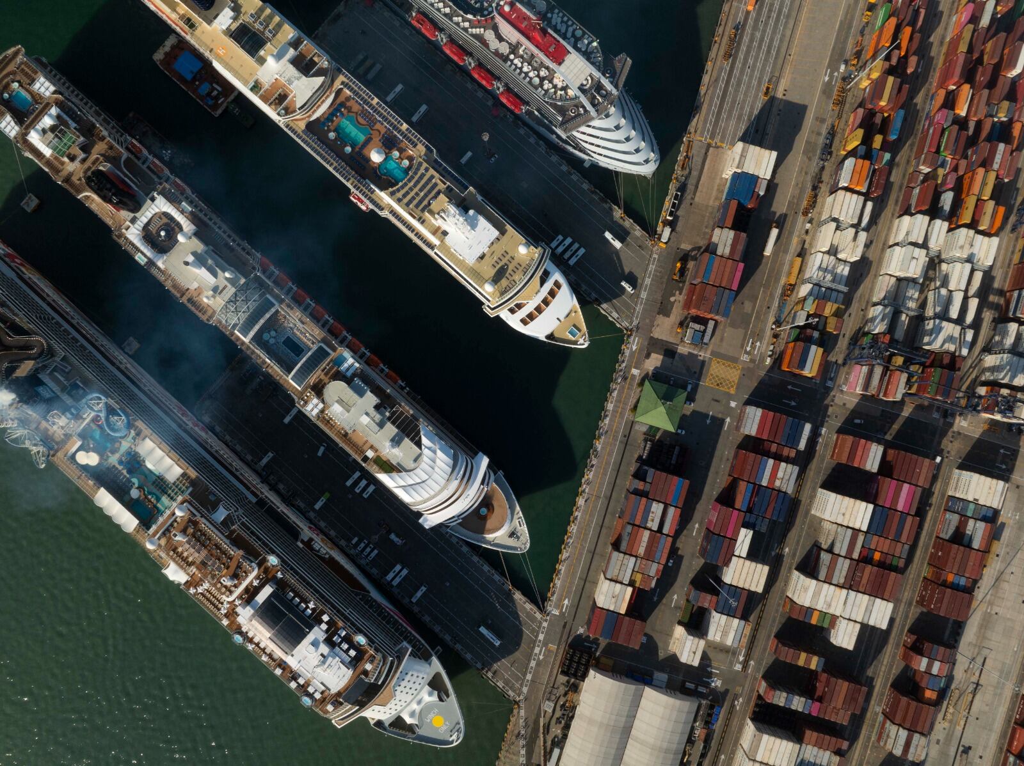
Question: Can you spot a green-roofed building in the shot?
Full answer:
Yes, looking at the shot, I can spot a green-roofed building.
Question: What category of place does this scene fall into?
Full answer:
What you see here is a port.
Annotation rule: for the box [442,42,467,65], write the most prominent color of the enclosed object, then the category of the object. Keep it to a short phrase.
red boat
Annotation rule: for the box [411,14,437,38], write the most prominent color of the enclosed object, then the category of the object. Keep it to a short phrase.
red boat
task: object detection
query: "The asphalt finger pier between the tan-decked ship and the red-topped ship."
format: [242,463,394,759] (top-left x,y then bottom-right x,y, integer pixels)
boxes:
[312,0,652,328]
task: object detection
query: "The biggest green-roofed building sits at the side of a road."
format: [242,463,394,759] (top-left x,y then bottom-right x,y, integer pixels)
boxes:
[632,379,688,432]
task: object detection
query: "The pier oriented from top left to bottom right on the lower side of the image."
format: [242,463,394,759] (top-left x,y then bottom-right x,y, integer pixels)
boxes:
[197,351,542,700]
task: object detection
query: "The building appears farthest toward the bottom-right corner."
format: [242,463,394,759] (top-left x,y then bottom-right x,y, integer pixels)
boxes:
[558,662,699,766]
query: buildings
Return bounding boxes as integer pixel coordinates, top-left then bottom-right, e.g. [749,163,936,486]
[558,662,699,766]
[632,379,688,432]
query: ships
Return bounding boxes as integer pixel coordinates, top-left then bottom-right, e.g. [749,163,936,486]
[367,0,660,179]
[0,237,465,749]
[0,45,530,554]
[125,111,184,168]
[152,33,242,119]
